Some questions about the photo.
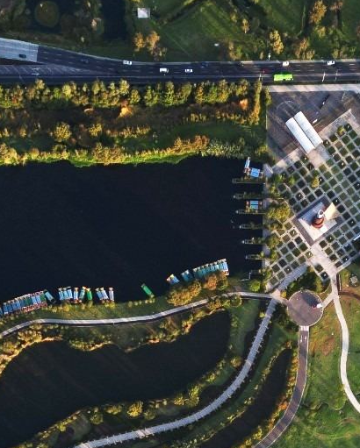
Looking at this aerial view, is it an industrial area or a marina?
marina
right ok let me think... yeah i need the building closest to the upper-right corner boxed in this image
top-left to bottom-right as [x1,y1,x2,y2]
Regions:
[284,108,329,152]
